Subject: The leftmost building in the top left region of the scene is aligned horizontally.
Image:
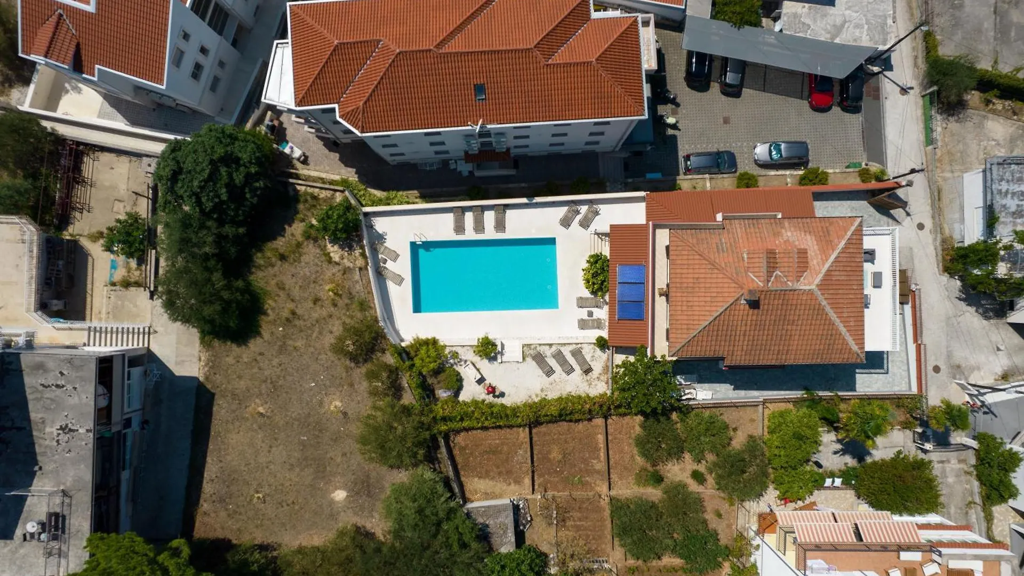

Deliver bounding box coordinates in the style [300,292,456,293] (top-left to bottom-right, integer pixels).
[14,0,245,110]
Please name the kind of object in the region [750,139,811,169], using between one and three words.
car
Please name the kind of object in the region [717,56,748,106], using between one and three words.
car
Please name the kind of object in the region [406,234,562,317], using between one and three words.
swimming pool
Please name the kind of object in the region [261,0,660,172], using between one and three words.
building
